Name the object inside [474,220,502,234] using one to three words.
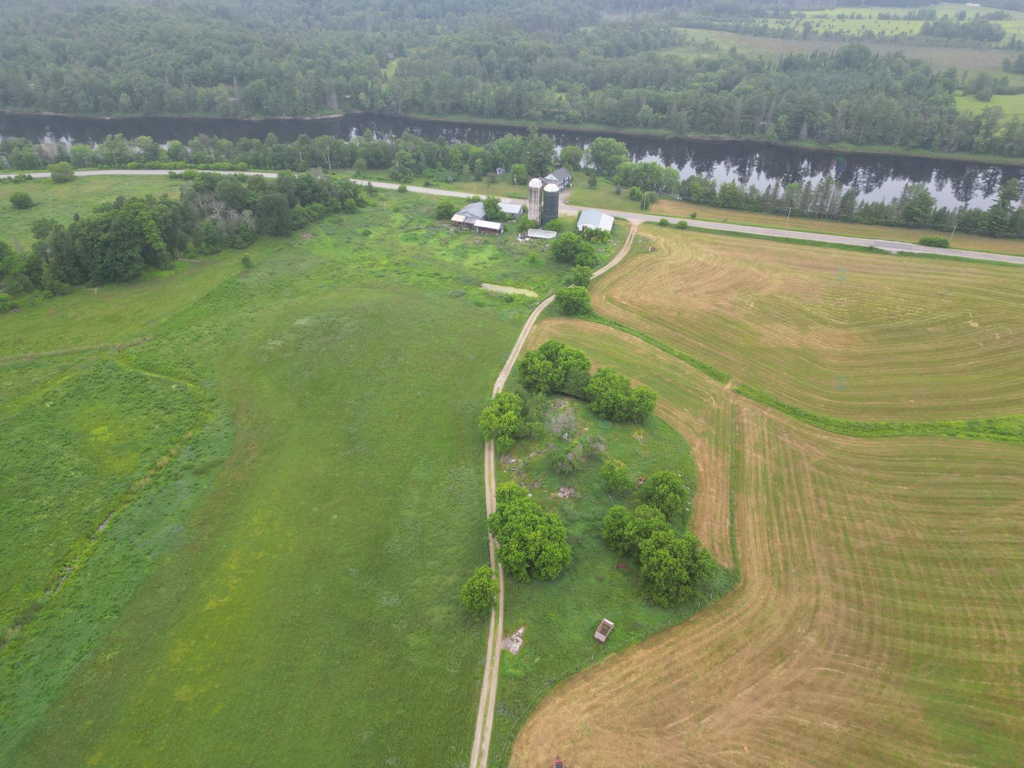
shed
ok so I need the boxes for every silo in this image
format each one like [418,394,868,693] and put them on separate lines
[543,187,559,226]
[529,178,543,226]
